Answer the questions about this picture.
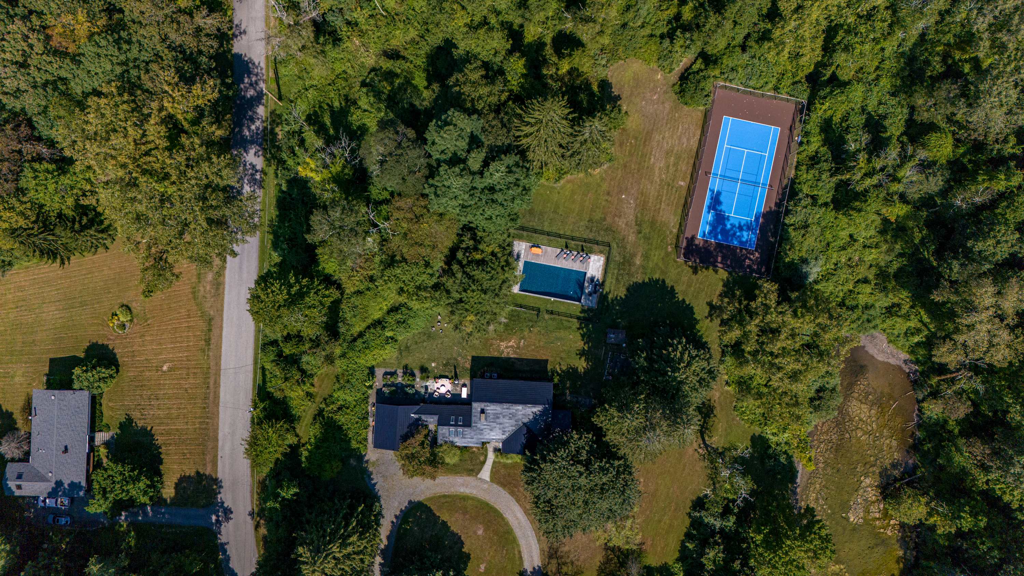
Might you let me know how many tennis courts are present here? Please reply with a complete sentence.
Just 1 tennis court appears in this view.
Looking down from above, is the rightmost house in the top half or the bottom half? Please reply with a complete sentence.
The rightmost house sits in the bottom half of the picture.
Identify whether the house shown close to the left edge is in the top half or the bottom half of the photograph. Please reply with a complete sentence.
You can find the house shown close to the left edge in the bottom half.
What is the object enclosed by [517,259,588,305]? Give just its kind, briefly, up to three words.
swimming pool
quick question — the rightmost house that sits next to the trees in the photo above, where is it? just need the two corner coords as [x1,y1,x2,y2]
[373,375,571,456]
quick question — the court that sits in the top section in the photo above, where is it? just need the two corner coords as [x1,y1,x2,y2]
[677,87,795,276]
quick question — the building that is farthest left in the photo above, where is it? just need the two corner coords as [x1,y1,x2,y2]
[2,389,106,497]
